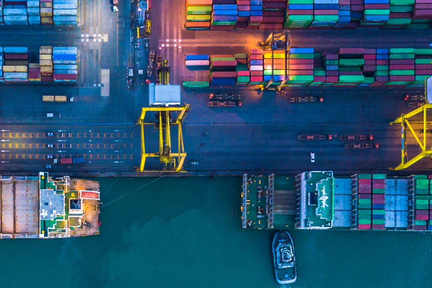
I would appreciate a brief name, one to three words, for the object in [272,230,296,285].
boat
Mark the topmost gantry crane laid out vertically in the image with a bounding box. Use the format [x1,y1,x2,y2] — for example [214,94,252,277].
[263,32,290,92]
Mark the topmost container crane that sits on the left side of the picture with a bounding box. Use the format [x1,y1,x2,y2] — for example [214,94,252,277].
[135,56,191,172]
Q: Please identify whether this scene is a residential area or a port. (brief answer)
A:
port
